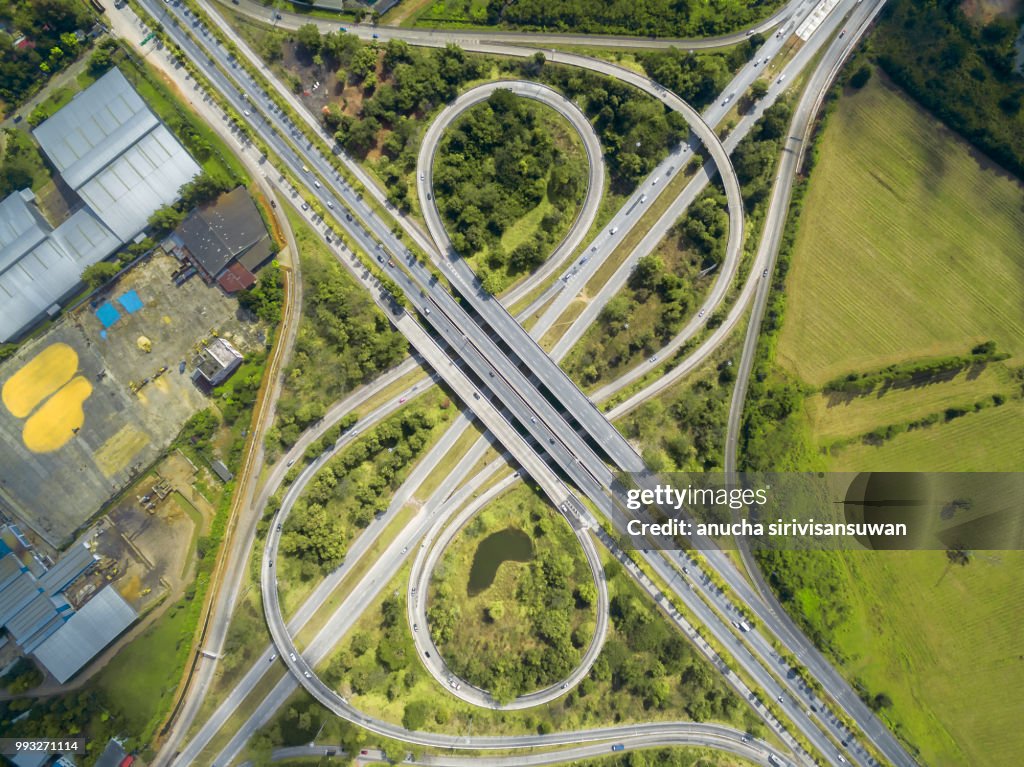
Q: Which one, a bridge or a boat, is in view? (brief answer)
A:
bridge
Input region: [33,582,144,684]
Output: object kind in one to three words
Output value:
building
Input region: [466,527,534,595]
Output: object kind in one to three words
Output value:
pond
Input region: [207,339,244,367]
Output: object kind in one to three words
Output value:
house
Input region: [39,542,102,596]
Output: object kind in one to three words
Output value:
building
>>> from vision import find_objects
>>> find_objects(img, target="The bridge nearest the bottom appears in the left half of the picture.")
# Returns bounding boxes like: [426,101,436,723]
[260,476,348,709]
